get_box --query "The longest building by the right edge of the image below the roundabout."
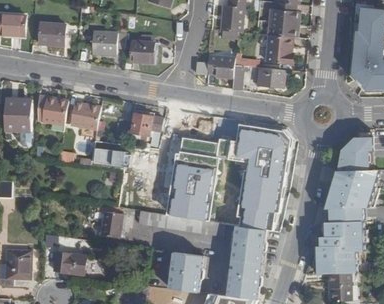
[316,170,382,303]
